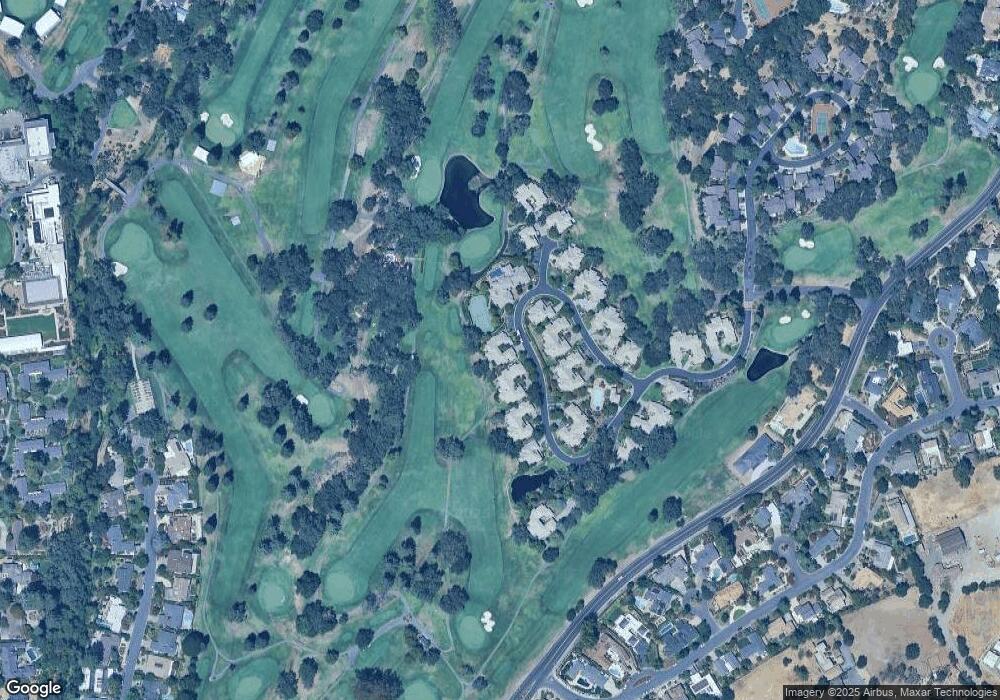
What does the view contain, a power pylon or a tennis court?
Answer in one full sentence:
Looking from above, you can make out a tennis court.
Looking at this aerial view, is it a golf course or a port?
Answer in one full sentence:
The picture captures a golf course.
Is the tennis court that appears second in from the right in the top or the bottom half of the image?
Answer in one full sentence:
Seen from above, the tennis court that appears second in from the right lies in the top half of the view.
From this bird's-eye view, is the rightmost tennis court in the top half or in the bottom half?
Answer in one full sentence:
You can find the rightmost tennis court in the top half.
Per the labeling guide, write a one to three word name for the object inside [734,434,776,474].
building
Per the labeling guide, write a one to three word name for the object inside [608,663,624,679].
swimming pool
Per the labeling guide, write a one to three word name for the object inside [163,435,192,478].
house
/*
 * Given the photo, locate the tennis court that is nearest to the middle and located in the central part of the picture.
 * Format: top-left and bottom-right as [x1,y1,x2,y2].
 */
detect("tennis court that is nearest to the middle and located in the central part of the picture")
[470,295,494,333]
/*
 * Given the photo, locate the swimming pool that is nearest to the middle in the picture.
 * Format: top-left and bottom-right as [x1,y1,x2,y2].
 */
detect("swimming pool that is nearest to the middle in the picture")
[591,378,605,412]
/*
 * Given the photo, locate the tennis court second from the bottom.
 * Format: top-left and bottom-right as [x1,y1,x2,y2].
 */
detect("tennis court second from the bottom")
[812,103,837,137]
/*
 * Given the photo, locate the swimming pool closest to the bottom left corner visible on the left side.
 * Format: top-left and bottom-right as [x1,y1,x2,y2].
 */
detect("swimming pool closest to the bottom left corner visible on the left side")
[25,647,40,663]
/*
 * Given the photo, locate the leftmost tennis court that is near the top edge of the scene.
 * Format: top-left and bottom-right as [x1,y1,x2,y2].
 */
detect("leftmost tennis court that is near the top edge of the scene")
[746,0,794,27]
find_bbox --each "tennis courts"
[812,103,837,137]
[746,0,794,27]
[470,295,494,333]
